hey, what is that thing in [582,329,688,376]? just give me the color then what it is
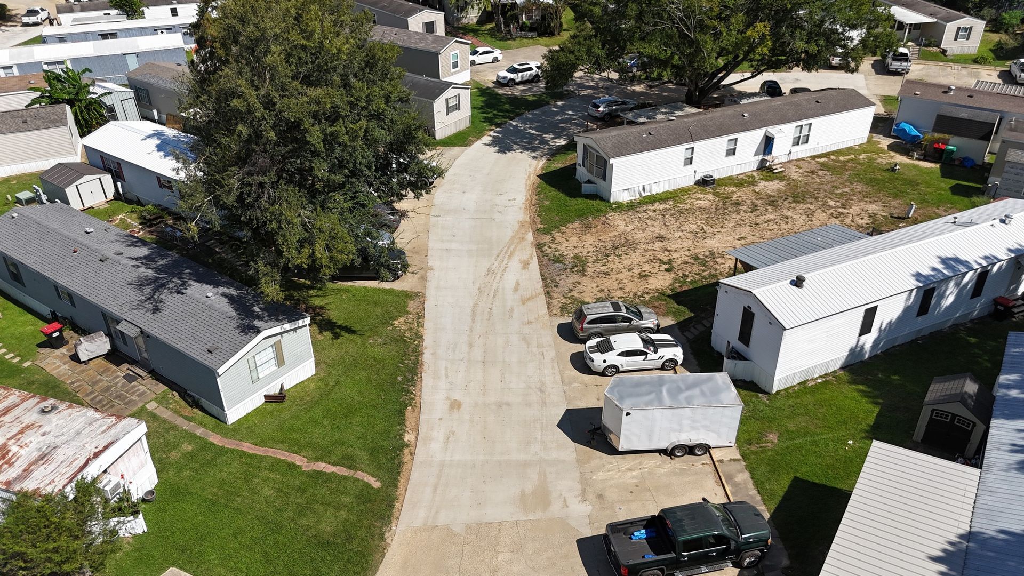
white car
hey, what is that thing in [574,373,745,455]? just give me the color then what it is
white trailer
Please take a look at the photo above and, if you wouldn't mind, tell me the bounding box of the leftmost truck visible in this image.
[9,8,59,29]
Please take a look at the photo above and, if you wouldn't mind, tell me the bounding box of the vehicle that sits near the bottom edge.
[600,499,780,576]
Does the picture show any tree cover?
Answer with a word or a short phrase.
Yes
